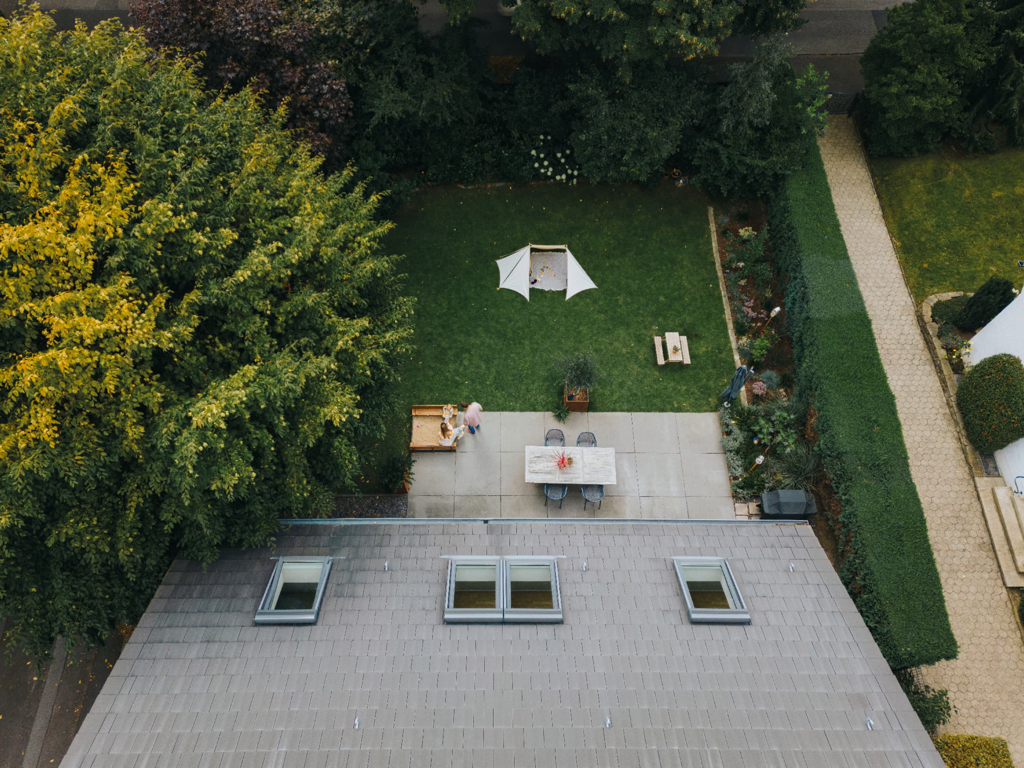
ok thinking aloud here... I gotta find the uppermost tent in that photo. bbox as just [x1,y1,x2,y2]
[496,242,597,302]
